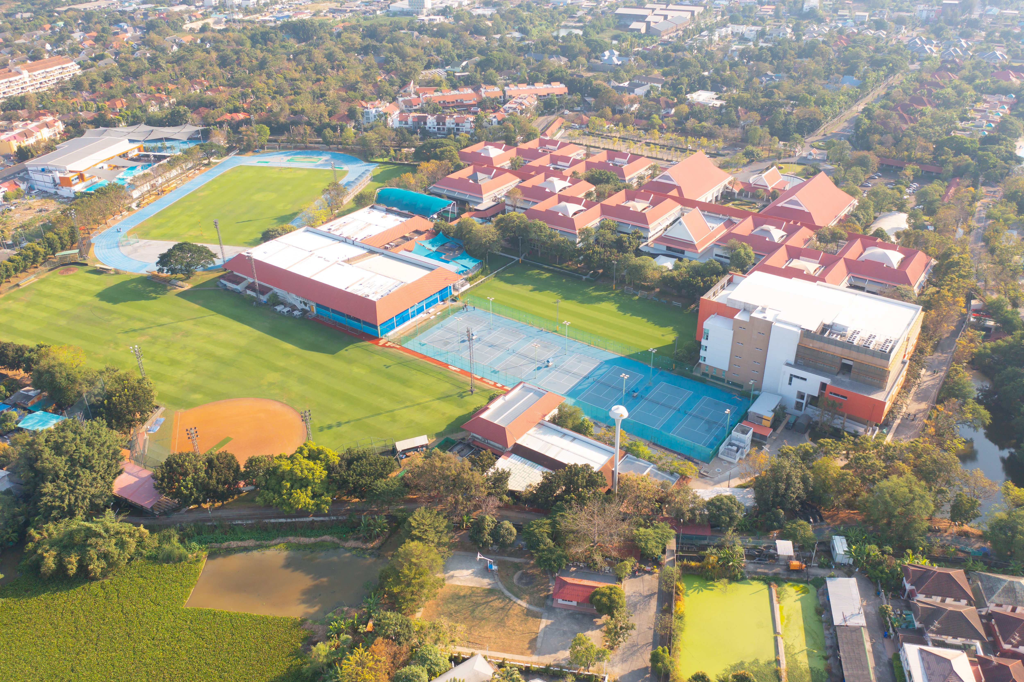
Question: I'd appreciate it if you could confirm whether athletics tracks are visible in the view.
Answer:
Yes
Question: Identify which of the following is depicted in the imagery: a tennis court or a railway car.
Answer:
tennis court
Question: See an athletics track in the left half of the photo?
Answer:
Yes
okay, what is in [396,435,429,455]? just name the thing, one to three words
shed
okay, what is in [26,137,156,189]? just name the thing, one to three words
building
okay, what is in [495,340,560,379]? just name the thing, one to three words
tennis court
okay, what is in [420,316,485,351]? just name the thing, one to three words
tennis court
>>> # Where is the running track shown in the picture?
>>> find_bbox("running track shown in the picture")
[89,151,367,274]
